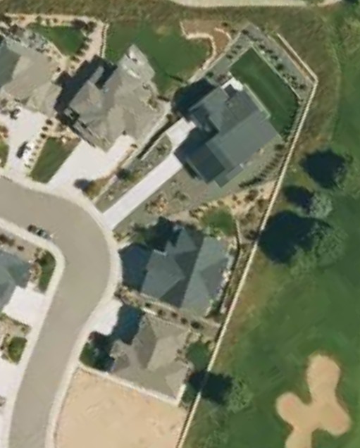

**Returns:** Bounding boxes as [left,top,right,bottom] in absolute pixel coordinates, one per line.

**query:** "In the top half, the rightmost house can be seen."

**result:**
[183,87,276,187]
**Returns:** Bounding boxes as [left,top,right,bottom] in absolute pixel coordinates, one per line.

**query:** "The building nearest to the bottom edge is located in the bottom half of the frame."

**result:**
[103,307,192,402]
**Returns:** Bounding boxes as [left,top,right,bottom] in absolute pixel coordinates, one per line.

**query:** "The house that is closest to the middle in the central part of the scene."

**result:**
[135,221,231,316]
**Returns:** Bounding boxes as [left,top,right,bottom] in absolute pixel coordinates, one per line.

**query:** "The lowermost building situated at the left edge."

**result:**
[0,251,30,317]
